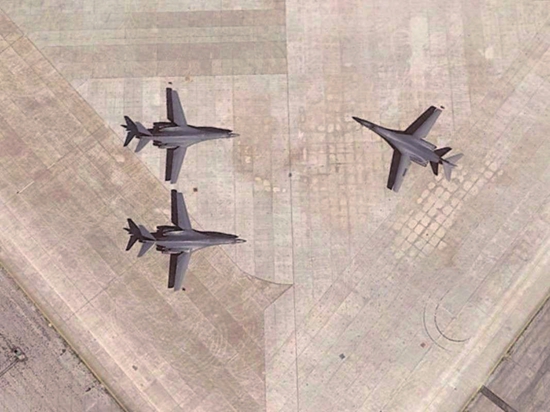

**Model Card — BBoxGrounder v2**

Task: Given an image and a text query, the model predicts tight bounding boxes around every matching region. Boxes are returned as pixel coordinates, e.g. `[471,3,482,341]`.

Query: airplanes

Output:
[358,107,463,193]
[135,89,240,183]
[140,191,246,290]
